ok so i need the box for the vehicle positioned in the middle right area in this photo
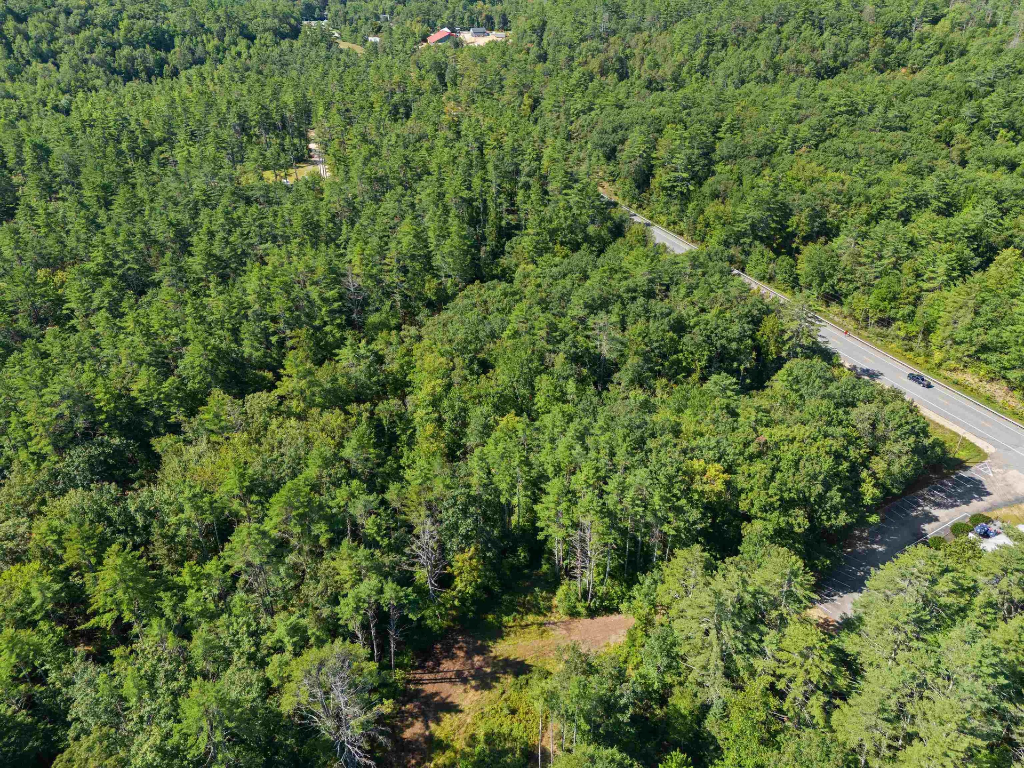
[905,375,932,389]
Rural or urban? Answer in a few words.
rural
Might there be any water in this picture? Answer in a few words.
No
